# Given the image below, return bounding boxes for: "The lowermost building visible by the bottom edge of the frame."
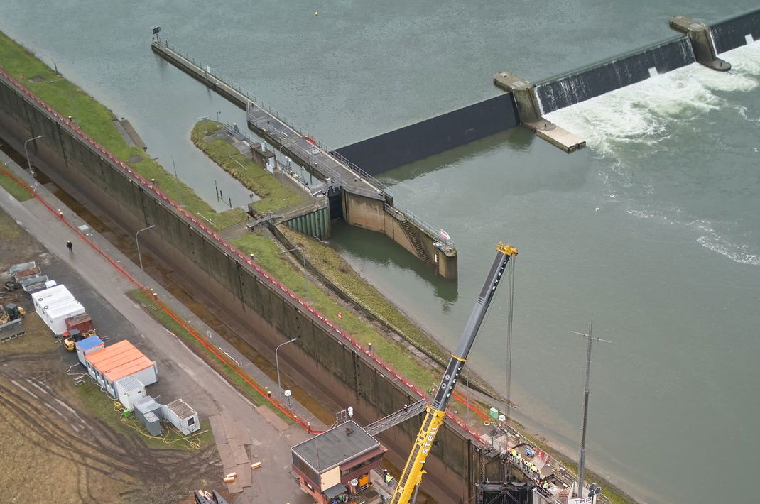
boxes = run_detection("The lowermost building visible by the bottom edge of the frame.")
[292,420,393,504]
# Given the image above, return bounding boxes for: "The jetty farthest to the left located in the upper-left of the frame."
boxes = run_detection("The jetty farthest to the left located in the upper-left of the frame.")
[113,117,152,153]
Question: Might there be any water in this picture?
Yes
